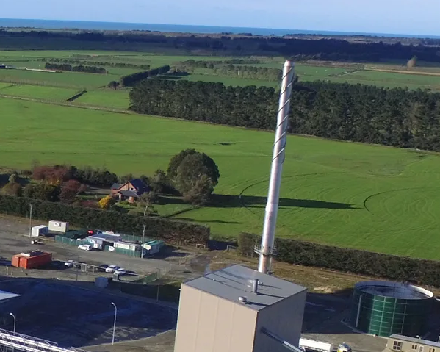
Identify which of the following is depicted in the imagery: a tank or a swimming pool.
tank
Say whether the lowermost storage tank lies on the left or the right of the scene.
right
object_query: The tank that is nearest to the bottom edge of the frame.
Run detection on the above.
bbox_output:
[342,280,439,338]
